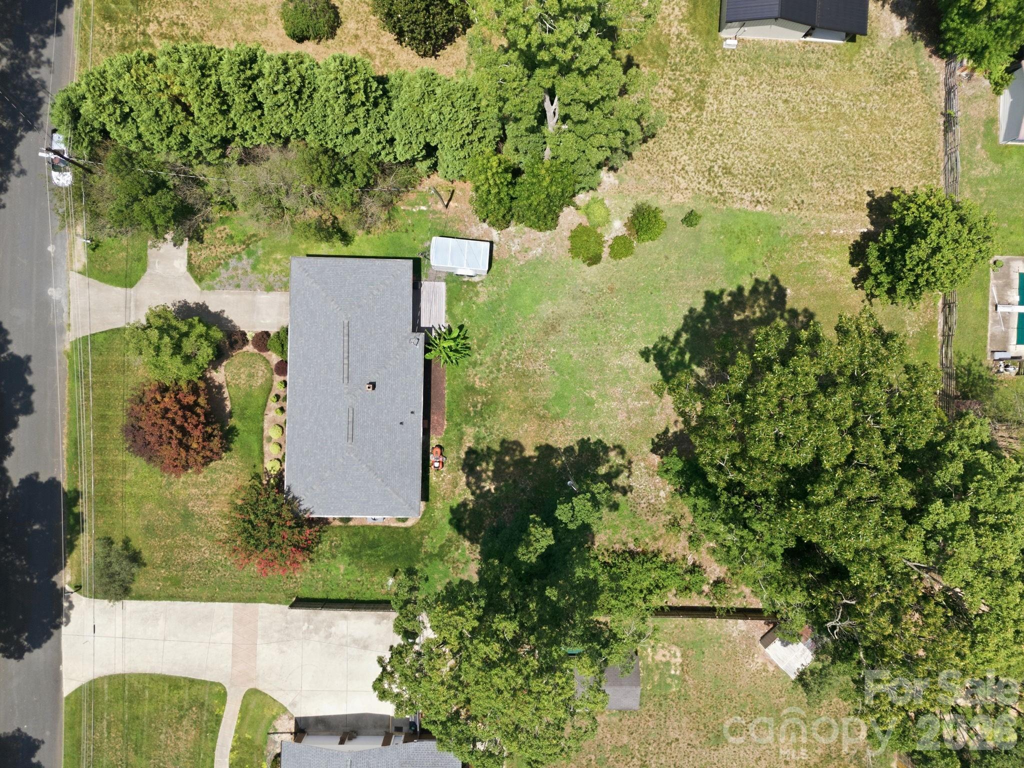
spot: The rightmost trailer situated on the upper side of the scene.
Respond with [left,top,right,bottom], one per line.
[419,238,490,275]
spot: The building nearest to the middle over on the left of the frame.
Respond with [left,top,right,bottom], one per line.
[284,256,437,518]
